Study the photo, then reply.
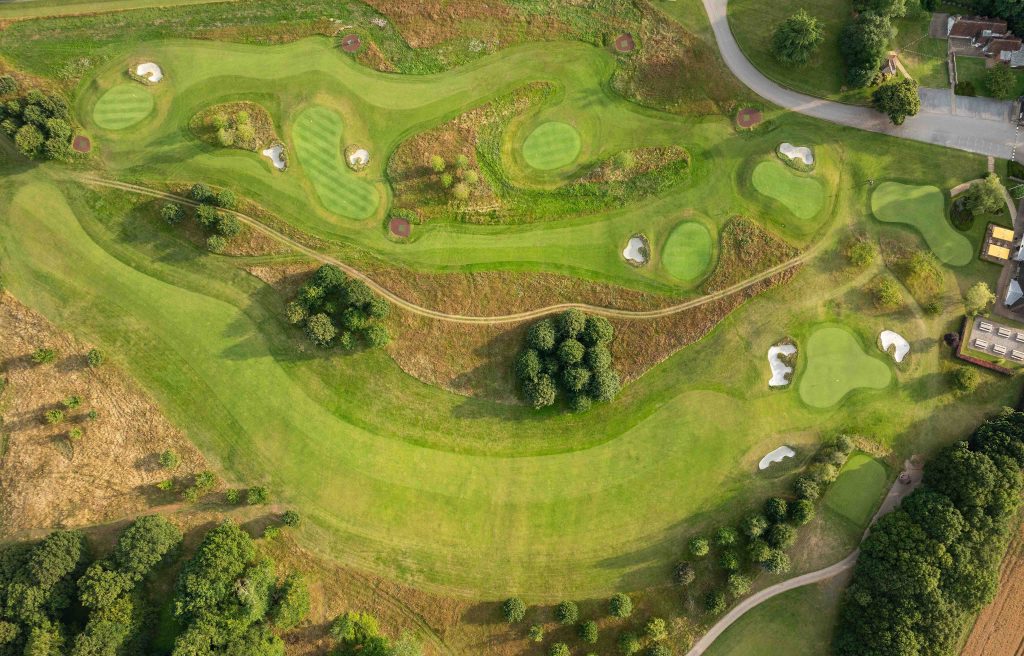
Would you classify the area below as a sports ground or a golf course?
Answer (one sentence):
The area seen from above is a golf course.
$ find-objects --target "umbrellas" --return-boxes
[986,244,1010,260]
[988,226,1014,242]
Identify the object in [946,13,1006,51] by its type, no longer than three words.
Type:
house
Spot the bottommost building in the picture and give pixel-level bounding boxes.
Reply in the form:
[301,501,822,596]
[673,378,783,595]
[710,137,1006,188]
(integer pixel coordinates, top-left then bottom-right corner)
[996,264,1024,315]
